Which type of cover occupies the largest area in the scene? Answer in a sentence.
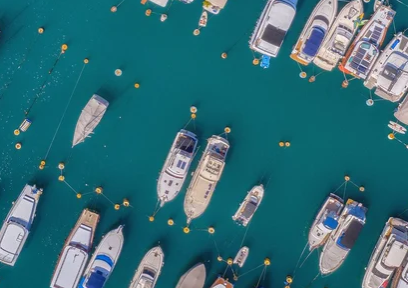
The scene is dominated by water.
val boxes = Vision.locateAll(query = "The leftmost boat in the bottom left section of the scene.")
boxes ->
[0,182,43,268]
